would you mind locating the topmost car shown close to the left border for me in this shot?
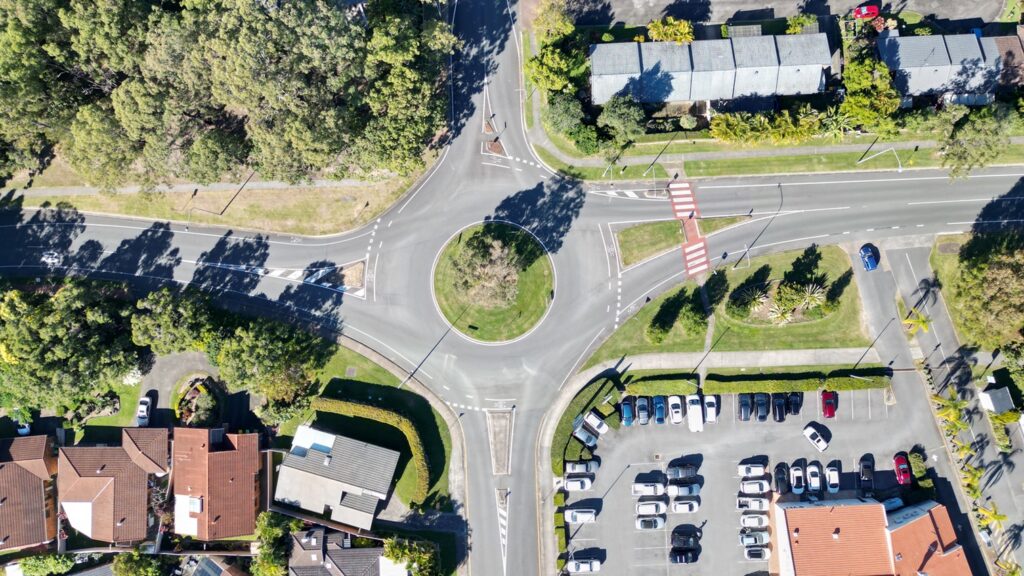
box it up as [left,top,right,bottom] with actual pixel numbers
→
[37,251,66,265]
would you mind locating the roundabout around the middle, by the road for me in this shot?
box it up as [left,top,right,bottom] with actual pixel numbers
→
[432,221,555,345]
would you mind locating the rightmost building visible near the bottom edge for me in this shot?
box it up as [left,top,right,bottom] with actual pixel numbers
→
[888,497,977,576]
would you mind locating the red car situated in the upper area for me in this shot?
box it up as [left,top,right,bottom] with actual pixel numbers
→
[851,4,878,20]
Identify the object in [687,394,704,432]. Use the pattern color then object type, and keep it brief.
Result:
white vehicle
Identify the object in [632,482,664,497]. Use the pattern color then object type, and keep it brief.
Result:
white vehicle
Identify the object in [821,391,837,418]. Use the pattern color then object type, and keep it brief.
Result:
red car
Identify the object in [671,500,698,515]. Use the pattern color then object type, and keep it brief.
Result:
white car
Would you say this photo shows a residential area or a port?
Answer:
residential area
